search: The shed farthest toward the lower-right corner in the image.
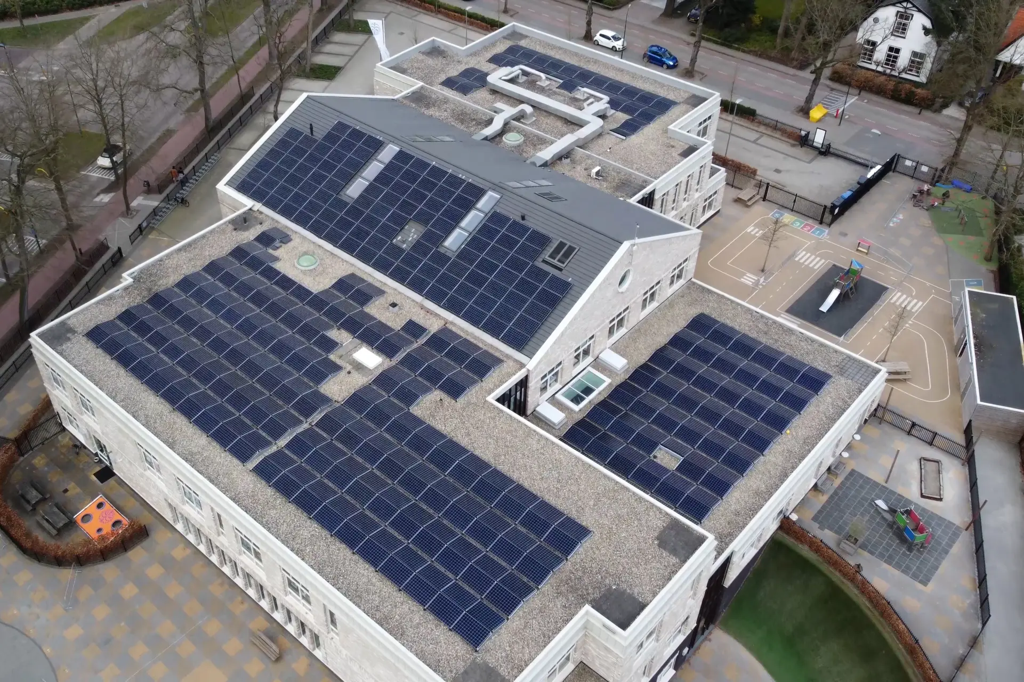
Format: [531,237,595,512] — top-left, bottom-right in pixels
[954,288,1024,444]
